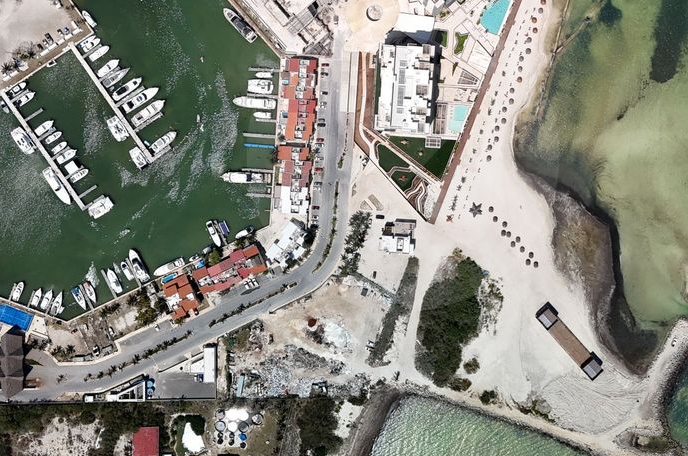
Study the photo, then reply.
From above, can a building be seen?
Yes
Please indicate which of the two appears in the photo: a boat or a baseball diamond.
boat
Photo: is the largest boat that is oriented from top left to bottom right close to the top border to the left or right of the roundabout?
to its left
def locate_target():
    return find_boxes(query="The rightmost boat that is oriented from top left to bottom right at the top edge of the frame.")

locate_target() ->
[223,8,258,45]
